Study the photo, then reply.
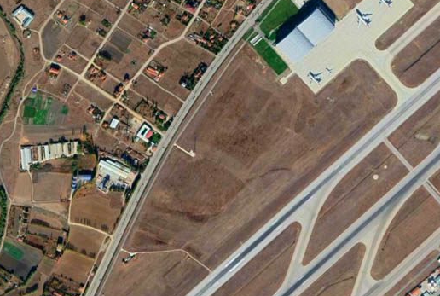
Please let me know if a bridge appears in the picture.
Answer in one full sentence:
No, the scene contains no bridge.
